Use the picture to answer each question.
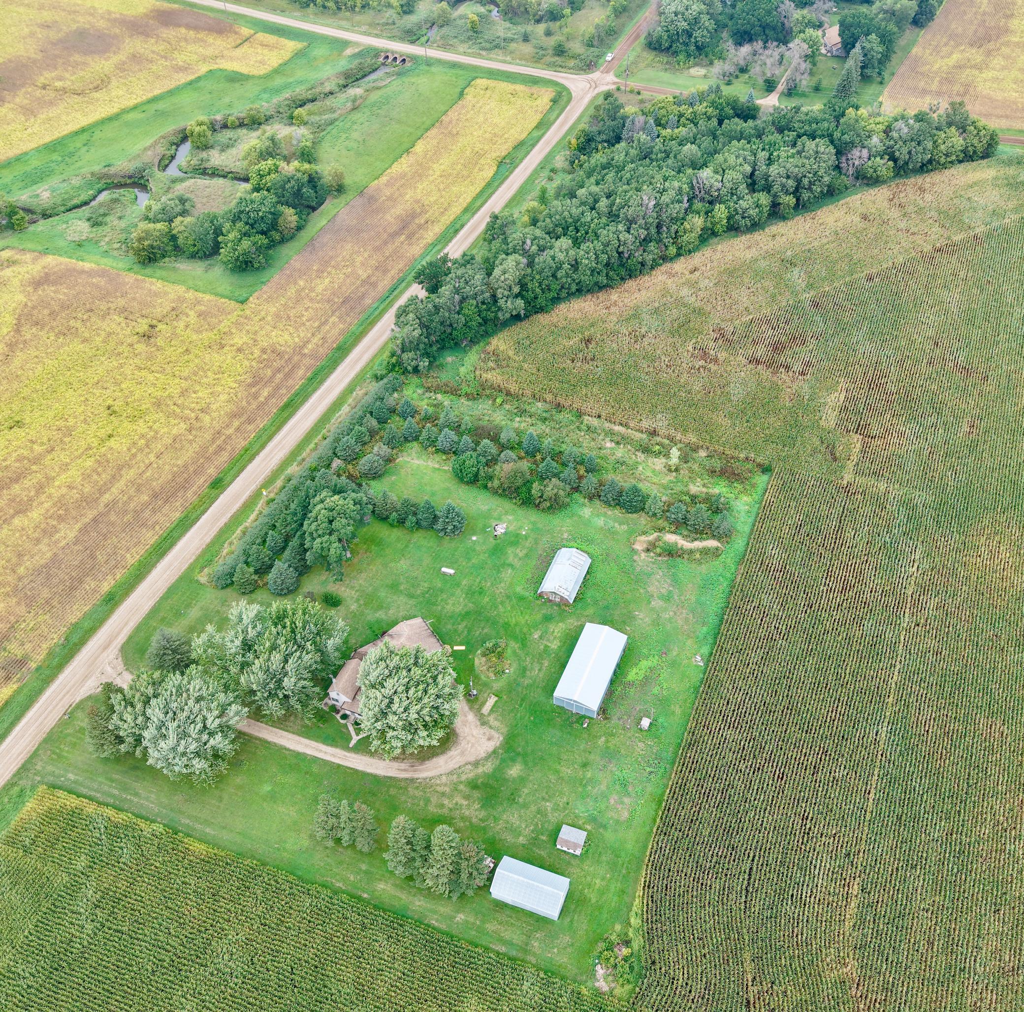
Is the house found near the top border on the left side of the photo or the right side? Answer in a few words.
right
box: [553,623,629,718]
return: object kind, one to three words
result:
shed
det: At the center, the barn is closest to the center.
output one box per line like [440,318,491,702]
[536,545,589,604]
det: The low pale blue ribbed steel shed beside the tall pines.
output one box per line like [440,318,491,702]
[490,855,572,921]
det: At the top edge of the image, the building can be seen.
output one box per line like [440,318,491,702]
[824,25,849,58]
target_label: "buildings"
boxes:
[327,617,444,728]
[553,623,629,718]
[536,545,589,604]
[556,824,588,856]
[490,855,572,921]
[824,25,849,58]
